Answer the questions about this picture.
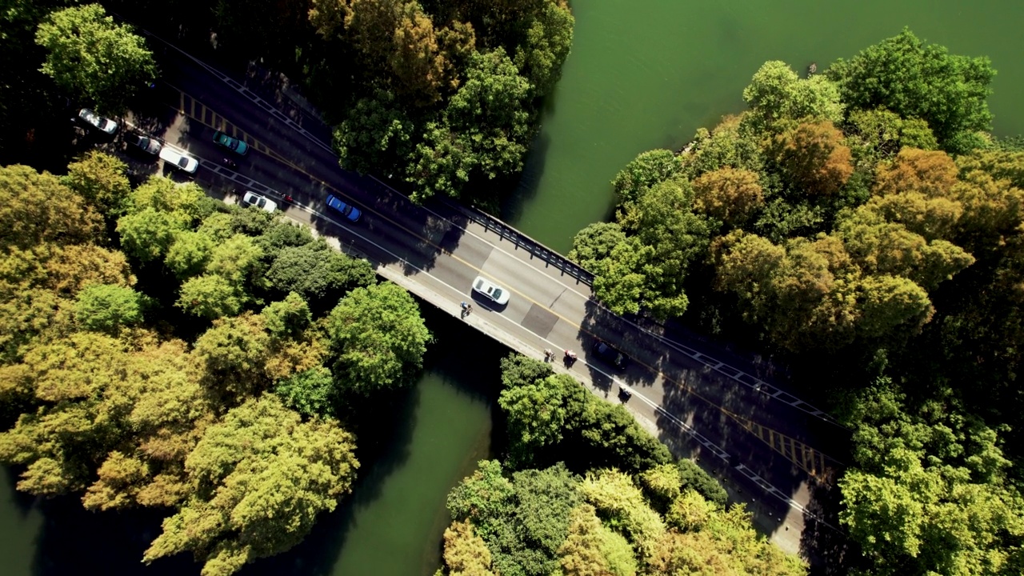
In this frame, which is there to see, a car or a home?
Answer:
car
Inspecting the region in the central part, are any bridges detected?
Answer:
Yes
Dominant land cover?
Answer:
trees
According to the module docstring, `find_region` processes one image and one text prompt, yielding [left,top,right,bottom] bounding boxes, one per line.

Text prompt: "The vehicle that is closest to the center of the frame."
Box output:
[470,275,511,305]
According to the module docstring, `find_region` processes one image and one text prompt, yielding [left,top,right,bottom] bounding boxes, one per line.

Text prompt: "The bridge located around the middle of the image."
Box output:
[377,197,613,378]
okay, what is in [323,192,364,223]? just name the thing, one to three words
car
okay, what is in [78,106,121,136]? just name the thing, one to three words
car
